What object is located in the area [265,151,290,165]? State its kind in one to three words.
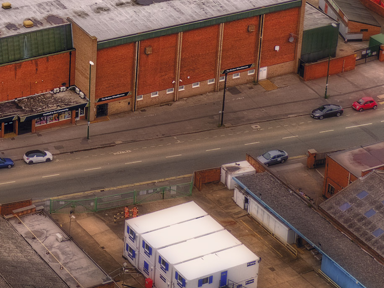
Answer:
car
